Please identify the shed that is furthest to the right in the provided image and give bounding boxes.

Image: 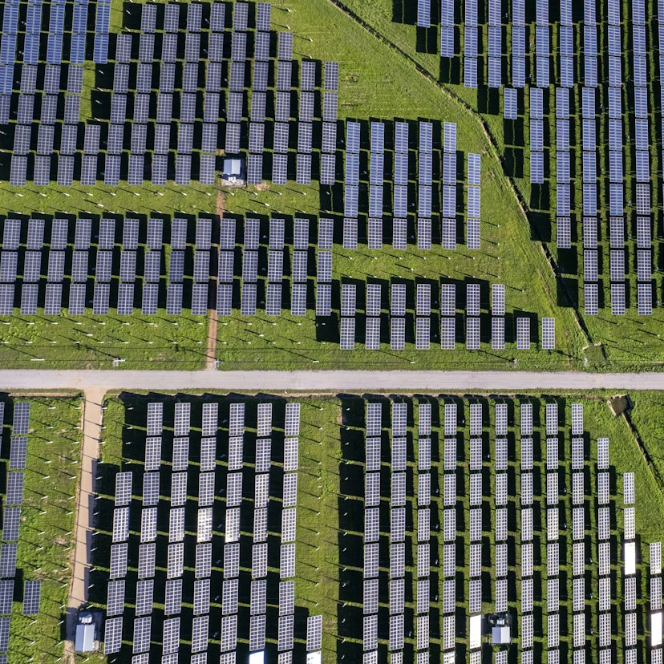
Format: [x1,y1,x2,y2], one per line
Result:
[491,623,509,645]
